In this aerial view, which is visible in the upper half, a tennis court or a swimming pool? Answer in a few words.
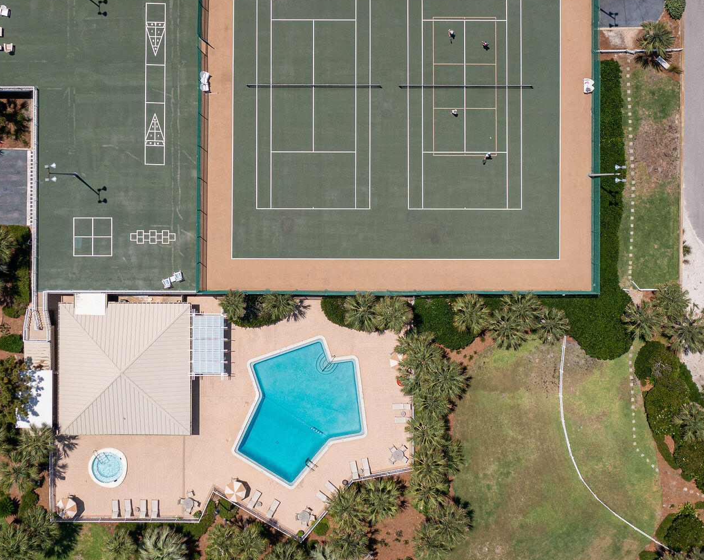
tennis court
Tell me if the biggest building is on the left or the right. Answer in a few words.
left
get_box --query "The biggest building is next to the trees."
[58,296,193,435]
